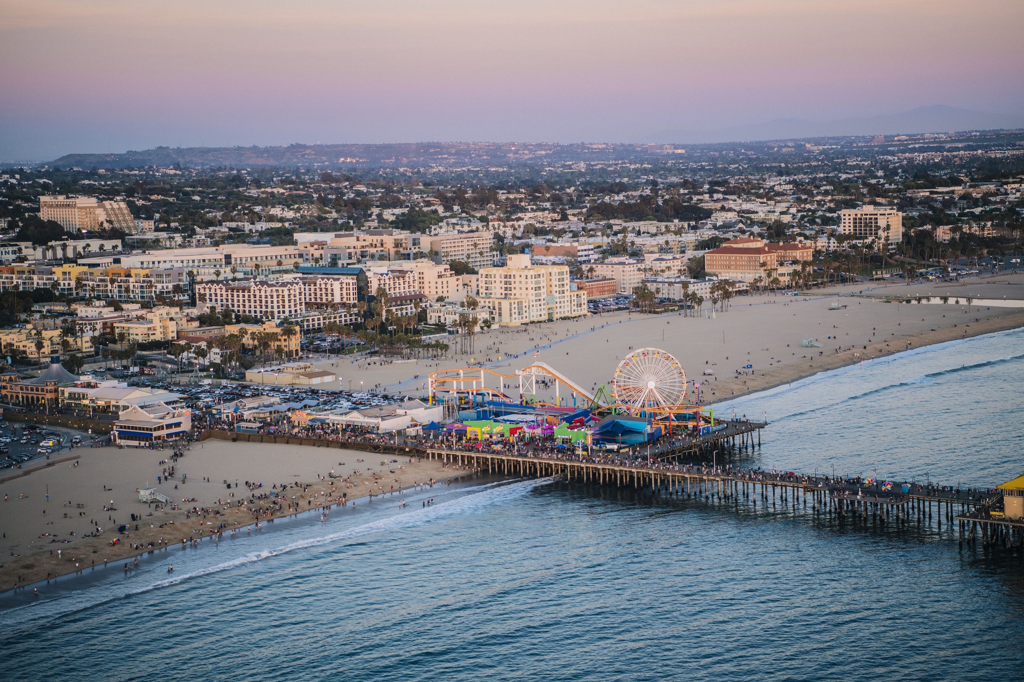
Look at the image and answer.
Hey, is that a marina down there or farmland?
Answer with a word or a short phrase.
marina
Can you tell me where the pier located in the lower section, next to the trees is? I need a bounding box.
[0,371,1024,543]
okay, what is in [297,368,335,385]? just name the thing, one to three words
building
